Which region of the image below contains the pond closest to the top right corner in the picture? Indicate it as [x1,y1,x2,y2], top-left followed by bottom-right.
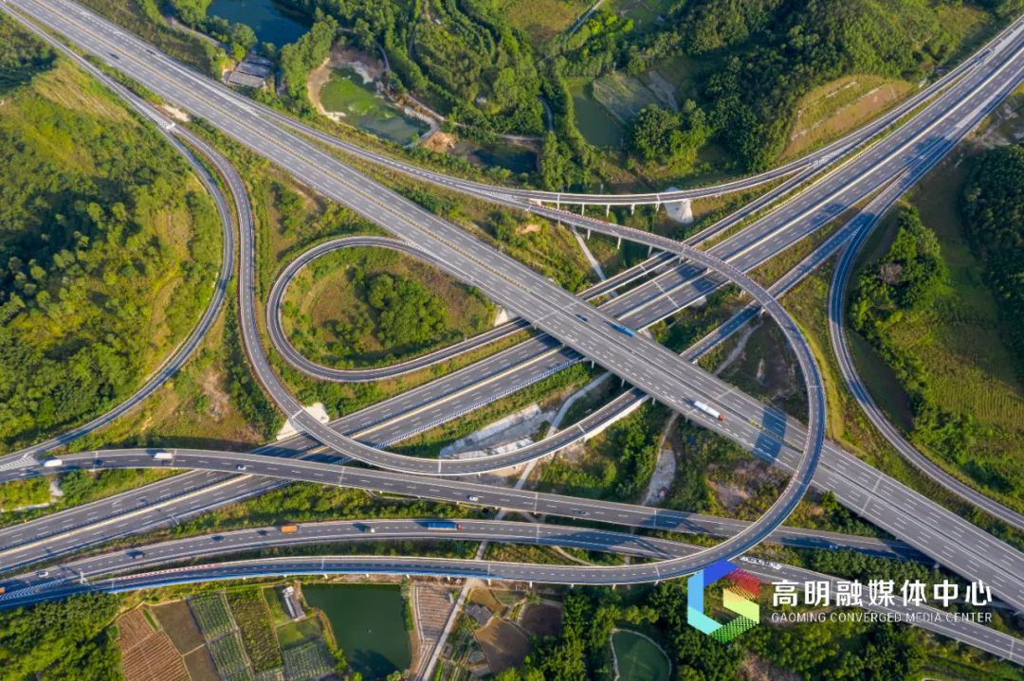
[571,84,625,146]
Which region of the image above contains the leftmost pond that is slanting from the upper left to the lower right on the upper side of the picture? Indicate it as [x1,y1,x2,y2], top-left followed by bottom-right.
[319,68,425,144]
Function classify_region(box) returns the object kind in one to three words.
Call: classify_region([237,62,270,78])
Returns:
shed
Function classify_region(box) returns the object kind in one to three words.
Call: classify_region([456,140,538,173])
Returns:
pond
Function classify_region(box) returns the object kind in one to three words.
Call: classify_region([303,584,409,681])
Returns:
pond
